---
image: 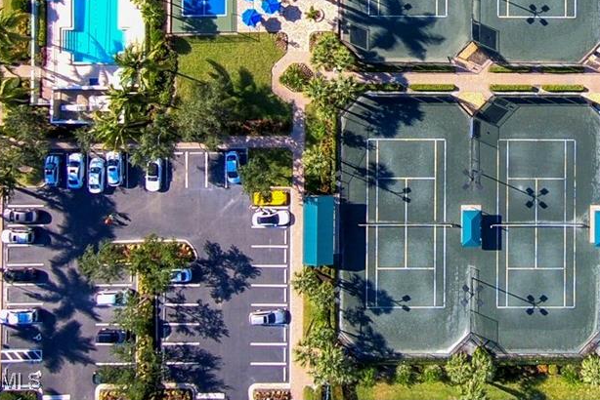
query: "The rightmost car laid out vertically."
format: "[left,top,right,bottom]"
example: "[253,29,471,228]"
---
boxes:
[224,150,241,184]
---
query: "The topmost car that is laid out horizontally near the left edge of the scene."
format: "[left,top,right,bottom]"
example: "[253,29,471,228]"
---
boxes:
[4,208,38,224]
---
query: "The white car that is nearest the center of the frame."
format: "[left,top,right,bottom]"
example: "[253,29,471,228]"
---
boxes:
[254,210,289,226]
